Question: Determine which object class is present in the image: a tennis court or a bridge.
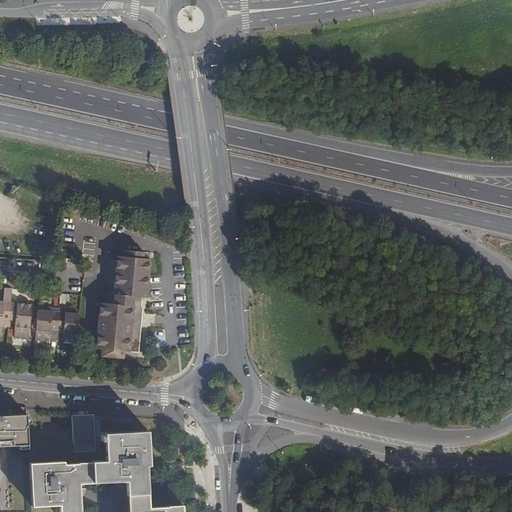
bridge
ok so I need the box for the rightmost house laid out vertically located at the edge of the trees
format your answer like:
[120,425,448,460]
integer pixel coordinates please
[98,252,152,359]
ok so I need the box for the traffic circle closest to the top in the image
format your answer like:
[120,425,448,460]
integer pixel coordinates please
[164,0,217,45]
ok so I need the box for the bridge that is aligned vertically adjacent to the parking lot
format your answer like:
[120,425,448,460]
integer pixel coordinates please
[167,66,235,205]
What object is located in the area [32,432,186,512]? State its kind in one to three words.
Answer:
building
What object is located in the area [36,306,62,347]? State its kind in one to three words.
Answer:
house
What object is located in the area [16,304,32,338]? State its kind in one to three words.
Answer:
house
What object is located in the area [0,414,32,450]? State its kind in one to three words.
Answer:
building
